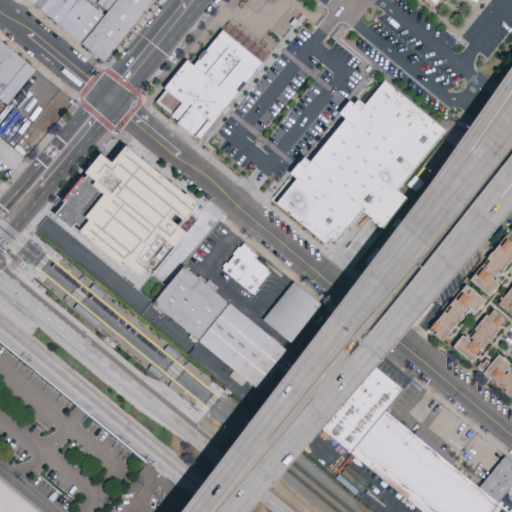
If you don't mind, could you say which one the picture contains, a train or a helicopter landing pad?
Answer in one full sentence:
The one in the frame is a train.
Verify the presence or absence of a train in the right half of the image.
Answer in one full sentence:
No, there's no train to be seen in the right half of the image.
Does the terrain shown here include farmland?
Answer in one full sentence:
No, there's no farmland in this view.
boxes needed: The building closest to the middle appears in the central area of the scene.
[224,244,271,295]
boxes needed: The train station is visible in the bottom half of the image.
[20,249,226,421]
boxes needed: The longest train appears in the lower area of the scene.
[52,263,167,358]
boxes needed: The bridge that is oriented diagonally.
[182,68,512,512]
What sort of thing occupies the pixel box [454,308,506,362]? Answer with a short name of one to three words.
building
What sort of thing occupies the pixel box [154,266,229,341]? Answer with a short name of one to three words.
building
